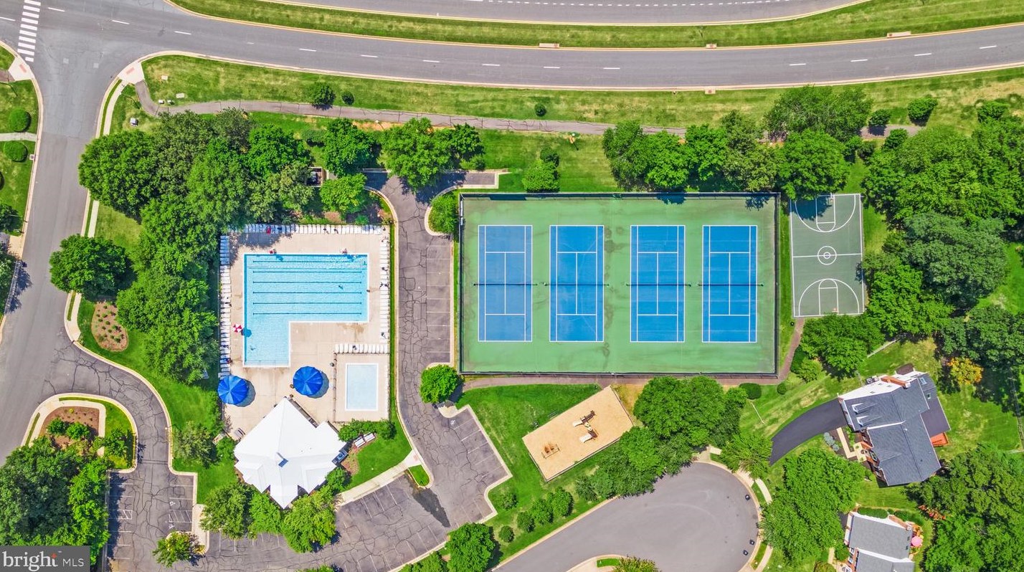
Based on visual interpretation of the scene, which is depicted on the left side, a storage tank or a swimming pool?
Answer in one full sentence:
There is a swimming pool on the left side.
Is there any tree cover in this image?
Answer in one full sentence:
Yes, there's tree cover in this view.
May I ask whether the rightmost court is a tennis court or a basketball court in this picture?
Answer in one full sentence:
The rightmost court appears to be a basketball court.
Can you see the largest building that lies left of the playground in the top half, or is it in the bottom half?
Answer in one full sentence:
Seen from above, the largest building that lies left of the playground lies in the bottom half of the view.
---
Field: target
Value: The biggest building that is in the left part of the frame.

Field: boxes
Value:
[234,398,347,508]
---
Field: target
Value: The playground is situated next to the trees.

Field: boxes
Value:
[520,384,631,482]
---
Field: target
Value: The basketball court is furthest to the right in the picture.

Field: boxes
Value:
[789,193,865,318]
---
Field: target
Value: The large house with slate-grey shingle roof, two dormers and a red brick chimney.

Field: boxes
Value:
[835,363,954,485]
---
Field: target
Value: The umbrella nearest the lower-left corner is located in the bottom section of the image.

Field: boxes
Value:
[219,375,249,404]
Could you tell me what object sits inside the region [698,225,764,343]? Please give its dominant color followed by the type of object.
blue tennis court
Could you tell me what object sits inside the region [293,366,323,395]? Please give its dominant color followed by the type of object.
blue umbrella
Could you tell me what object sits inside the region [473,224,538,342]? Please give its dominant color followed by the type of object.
blue tennis court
